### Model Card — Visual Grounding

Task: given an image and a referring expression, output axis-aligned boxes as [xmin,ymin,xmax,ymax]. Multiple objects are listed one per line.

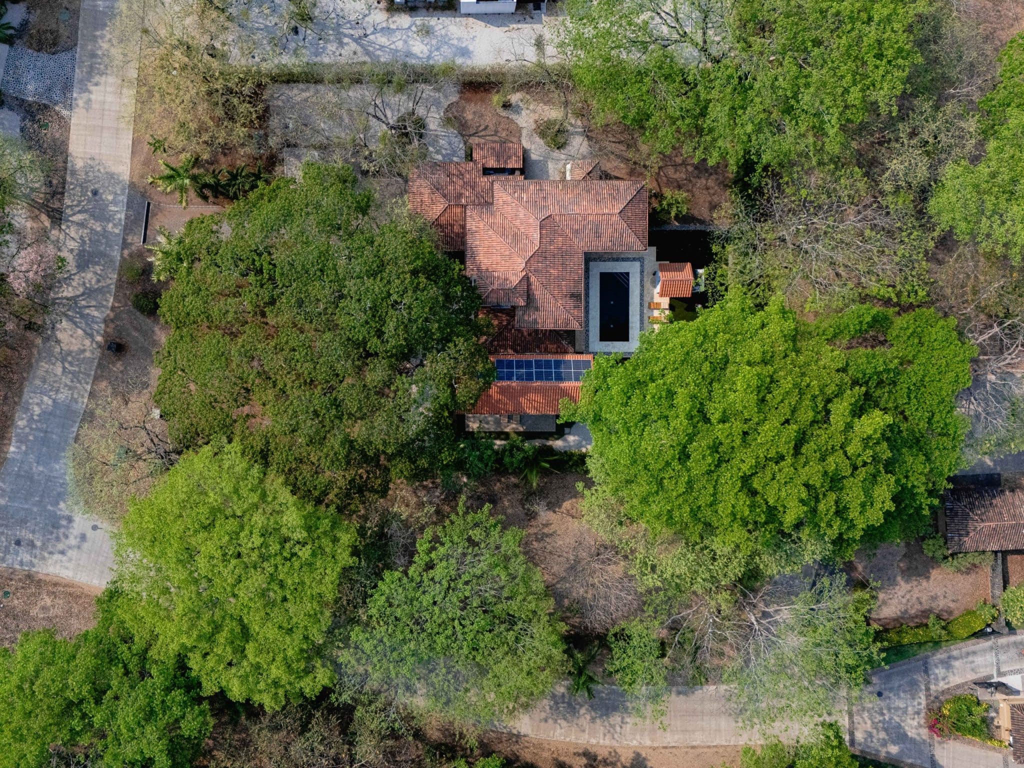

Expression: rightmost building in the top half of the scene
[652,261,704,299]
